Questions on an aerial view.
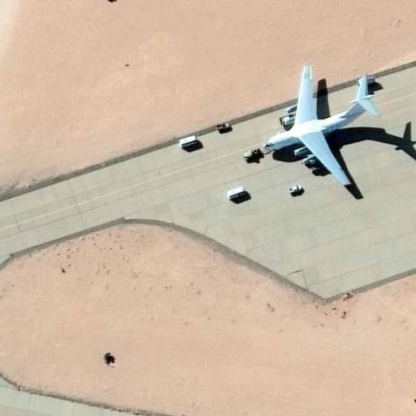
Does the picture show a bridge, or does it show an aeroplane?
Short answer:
aeroplane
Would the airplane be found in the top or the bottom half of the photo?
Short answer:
top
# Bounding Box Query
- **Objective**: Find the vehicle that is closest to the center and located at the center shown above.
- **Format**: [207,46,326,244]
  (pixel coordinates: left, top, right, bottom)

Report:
[229,188,248,200]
